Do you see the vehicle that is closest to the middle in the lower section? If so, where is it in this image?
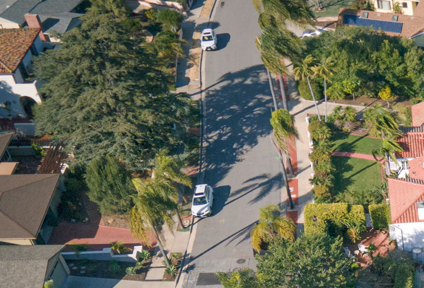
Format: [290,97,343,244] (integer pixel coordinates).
[187,178,215,214]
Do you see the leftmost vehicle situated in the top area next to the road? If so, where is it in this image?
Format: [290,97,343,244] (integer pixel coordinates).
[198,30,216,48]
